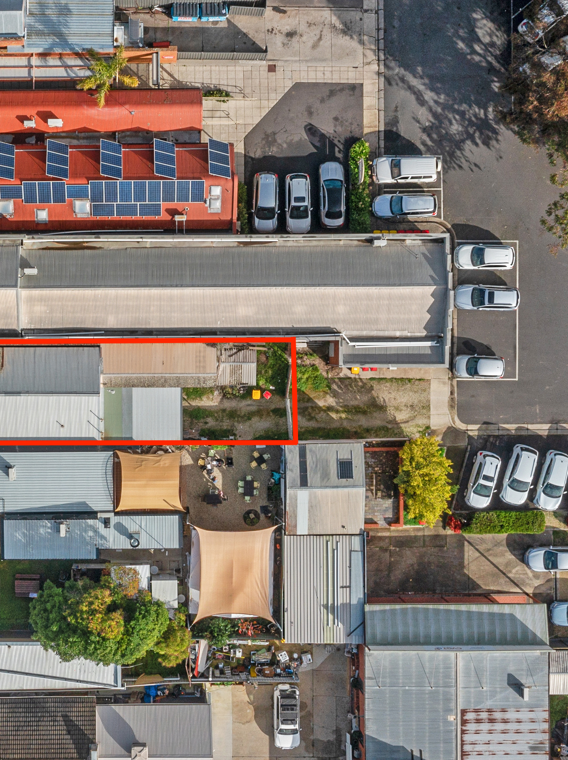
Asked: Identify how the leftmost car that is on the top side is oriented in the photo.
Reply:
vertically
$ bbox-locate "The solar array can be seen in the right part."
[340,460,355,478]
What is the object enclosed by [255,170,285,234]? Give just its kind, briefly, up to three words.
car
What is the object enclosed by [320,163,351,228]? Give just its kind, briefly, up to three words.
car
